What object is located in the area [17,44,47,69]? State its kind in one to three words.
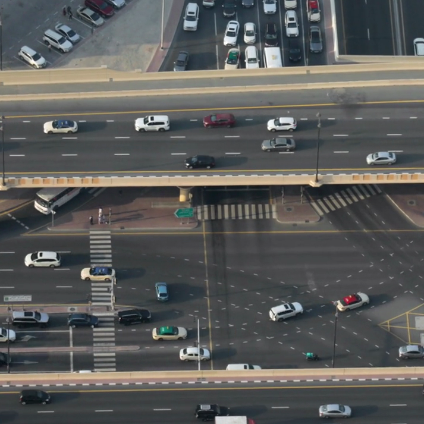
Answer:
car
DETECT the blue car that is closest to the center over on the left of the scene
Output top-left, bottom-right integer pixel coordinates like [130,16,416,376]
[155,282,168,302]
